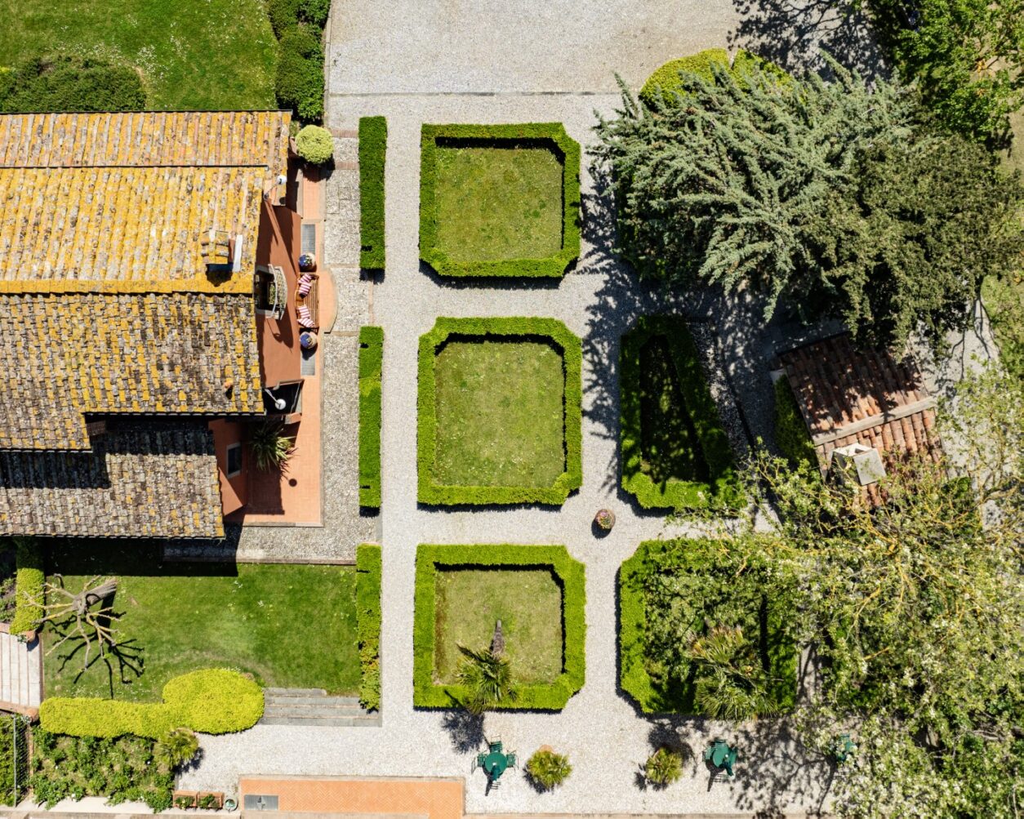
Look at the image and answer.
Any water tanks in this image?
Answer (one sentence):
No, I can't see a single water tank in this photo.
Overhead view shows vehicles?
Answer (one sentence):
No, the photo shows no vehicle.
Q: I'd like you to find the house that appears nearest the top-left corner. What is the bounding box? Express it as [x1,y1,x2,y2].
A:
[0,109,307,540]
